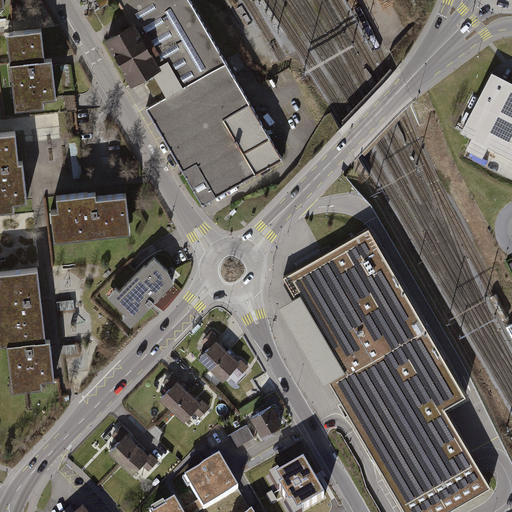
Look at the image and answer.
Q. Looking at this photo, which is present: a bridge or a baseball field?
bridge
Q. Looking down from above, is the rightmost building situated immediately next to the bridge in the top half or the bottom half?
top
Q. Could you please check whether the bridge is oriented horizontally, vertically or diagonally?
diagonally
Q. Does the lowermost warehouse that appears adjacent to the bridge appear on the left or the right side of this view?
right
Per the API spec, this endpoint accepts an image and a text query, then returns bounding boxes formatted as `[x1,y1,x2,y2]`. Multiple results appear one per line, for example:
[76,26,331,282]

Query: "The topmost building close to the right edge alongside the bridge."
[459,74,512,164]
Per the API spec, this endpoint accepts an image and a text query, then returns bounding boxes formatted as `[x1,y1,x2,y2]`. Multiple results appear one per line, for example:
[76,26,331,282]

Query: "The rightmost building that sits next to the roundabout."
[284,230,489,512]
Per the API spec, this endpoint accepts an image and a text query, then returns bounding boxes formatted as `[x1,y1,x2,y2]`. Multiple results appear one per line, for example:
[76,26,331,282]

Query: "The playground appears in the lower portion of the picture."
[53,265,96,392]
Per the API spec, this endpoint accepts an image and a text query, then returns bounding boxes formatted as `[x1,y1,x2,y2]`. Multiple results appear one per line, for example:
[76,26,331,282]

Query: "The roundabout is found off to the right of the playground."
[184,222,275,316]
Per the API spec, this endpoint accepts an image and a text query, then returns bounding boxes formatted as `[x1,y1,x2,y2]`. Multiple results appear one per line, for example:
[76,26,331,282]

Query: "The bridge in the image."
[318,60,437,180]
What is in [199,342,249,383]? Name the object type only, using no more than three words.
house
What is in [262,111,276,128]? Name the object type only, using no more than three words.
vehicle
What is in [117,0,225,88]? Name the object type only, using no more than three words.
building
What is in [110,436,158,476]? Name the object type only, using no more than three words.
house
